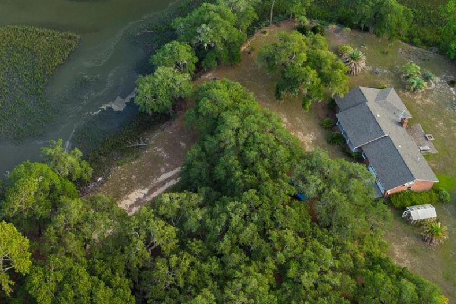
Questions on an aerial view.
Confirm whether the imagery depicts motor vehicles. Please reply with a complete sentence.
No, the scene contains no motor vehicle.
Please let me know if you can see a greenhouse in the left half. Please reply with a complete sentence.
No, no greenhouse appears in the left half.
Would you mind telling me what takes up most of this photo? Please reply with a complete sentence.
What you mostly see from above here is trees.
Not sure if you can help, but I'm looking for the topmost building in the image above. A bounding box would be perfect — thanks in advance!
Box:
[333,85,440,200]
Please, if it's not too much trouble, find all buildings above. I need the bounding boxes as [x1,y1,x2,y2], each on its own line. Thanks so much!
[333,85,440,200]
[402,207,443,234]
